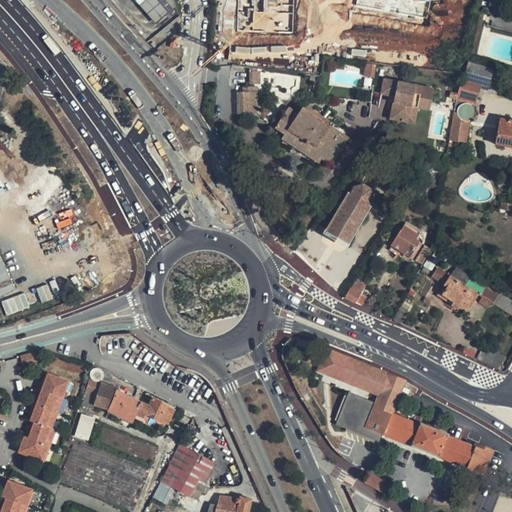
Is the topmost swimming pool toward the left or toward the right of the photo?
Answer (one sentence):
The topmost swimming pool sits on the right side.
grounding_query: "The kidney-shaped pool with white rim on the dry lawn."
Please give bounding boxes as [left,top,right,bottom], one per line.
[458,172,495,203]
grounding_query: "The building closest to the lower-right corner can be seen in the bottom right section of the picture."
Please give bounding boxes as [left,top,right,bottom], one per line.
[468,446,496,476]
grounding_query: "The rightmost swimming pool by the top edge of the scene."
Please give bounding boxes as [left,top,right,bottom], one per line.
[478,24,512,64]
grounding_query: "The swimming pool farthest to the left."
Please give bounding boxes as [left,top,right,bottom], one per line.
[328,66,364,88]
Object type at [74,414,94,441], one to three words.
shed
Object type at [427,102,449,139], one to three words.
swimming pool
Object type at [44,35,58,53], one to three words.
vehicle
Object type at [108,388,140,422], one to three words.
house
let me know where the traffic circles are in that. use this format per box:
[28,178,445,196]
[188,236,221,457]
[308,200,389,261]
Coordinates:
[142,222,274,382]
